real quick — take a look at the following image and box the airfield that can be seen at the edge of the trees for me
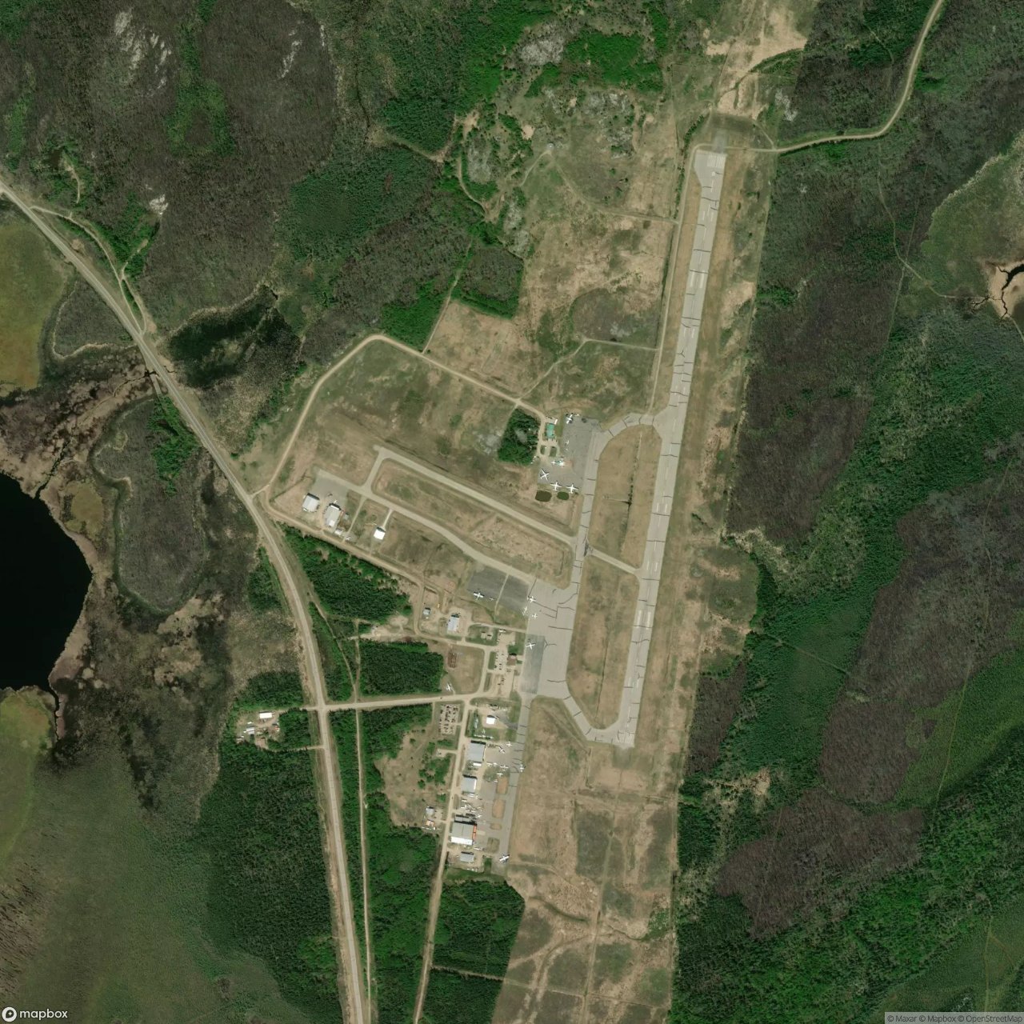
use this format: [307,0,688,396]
[308,131,727,877]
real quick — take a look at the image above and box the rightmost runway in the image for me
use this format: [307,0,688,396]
[615,150,727,750]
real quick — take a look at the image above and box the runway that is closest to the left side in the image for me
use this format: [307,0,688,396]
[374,445,635,573]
